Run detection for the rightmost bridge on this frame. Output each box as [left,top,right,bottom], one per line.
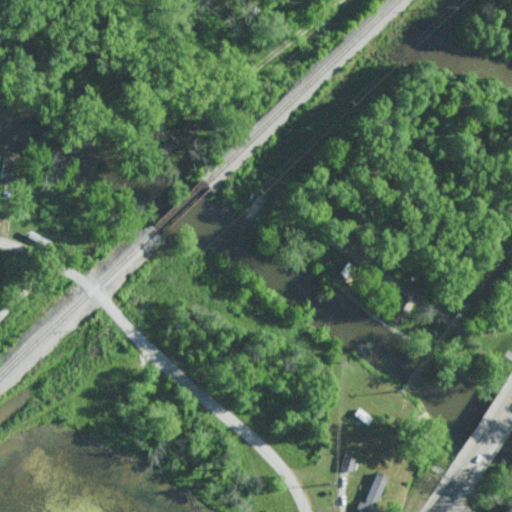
[423,374,512,512]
